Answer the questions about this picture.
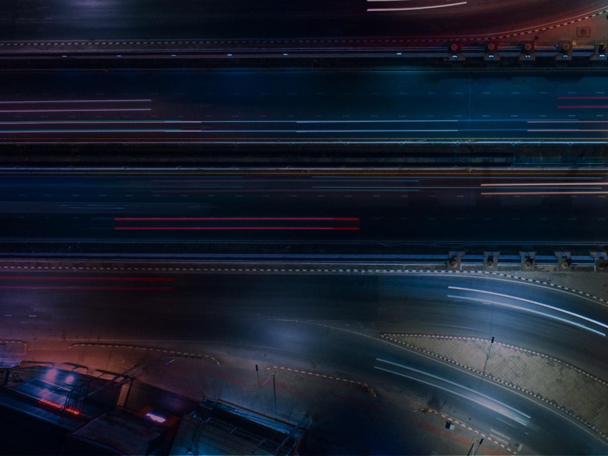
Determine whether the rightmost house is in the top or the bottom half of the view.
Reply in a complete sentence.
You can find the rightmost house in the bottom half.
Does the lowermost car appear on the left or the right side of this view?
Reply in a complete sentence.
You can find the lowermost car on the right side of the picture.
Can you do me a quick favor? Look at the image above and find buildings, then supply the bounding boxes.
[174,392,309,456]
[0,366,129,456]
